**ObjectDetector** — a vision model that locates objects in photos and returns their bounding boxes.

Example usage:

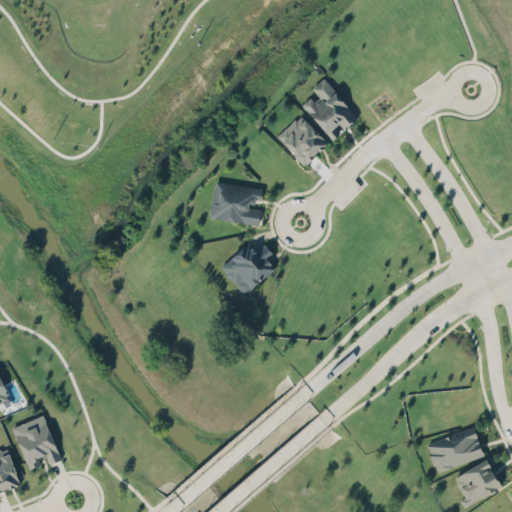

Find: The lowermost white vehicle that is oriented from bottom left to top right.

[328,354,356,378]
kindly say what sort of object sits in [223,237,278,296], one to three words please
house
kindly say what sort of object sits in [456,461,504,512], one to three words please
house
